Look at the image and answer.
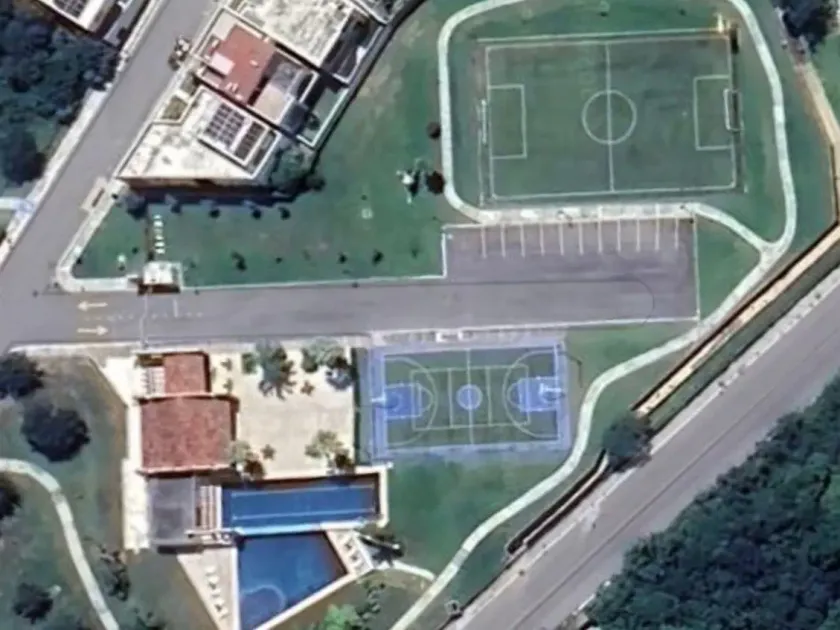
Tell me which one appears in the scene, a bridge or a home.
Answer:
home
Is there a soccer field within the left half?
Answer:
No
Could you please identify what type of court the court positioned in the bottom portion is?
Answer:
basketball court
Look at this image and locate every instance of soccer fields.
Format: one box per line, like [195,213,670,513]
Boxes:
[478,30,743,206]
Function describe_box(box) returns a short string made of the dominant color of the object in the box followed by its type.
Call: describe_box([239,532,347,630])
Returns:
blue swimming pool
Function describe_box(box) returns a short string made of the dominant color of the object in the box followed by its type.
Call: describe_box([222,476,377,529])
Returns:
blue swimming pool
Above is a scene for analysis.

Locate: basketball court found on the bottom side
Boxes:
[368,338,572,463]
